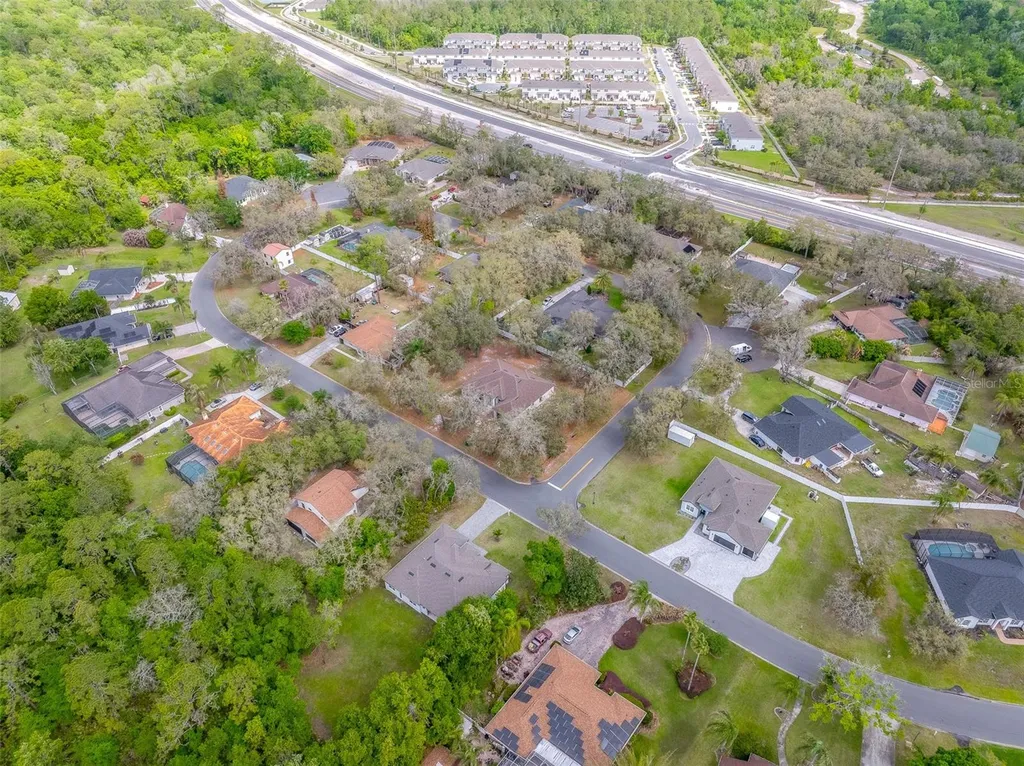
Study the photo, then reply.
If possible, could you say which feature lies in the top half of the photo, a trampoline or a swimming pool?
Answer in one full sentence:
What appears in the top half of the photo is a swimming pool.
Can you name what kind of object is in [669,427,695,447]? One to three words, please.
shed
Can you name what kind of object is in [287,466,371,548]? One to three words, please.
house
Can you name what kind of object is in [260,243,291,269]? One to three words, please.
house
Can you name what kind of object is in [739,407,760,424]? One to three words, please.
vehicle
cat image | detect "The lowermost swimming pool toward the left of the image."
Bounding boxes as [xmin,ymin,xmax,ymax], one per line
[166,448,225,492]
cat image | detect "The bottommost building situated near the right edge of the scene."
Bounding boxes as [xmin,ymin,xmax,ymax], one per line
[924,549,1024,631]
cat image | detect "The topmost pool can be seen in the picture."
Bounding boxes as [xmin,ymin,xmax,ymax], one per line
[333,237,363,257]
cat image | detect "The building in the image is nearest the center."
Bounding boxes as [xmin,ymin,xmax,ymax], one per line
[459,356,558,423]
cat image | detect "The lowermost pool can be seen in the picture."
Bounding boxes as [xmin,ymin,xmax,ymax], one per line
[914,538,986,562]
